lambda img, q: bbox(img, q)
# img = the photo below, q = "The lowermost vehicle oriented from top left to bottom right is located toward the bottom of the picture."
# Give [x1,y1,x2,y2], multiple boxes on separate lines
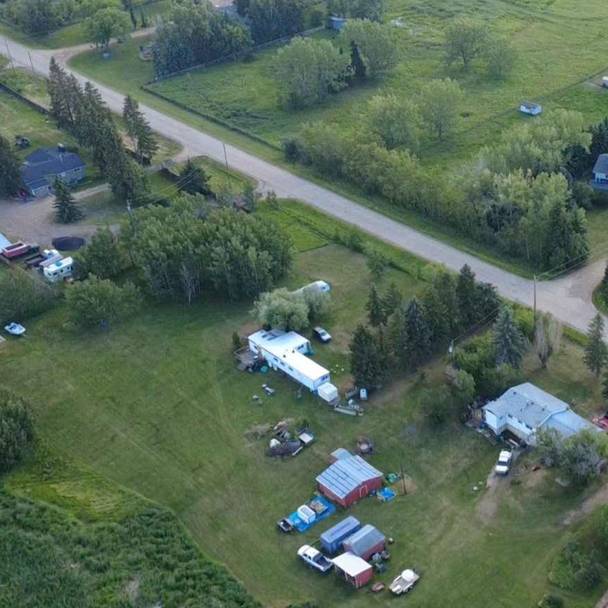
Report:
[294,542,332,570]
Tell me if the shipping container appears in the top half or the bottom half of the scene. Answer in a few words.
bottom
